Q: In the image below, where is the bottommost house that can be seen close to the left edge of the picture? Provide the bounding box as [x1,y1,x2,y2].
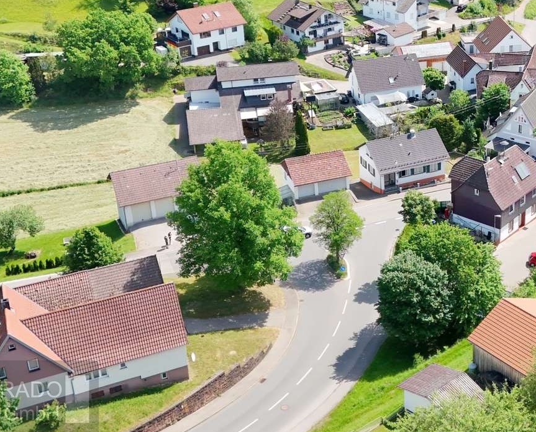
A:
[0,256,191,432]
